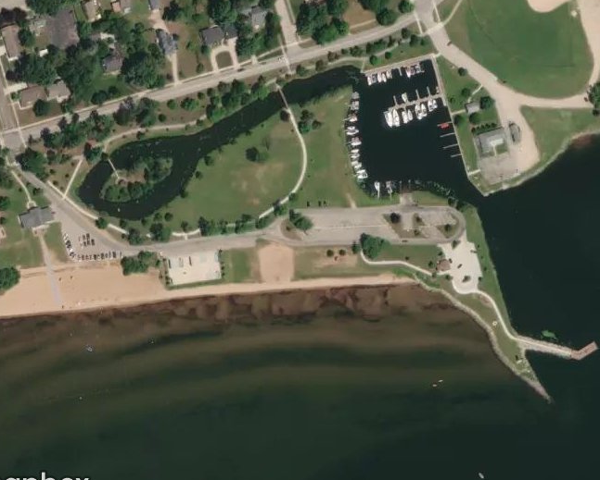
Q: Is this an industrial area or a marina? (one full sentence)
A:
It's a marina.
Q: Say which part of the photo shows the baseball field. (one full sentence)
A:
The baseball field appears toward the top right of the photo.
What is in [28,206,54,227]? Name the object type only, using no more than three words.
house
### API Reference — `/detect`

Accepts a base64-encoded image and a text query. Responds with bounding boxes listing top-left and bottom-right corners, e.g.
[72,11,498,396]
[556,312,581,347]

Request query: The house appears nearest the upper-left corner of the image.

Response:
[0,23,22,56]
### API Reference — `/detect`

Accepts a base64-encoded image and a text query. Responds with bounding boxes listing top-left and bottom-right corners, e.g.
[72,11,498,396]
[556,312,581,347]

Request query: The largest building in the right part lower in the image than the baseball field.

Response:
[477,127,504,157]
